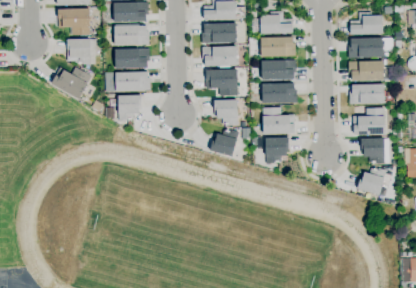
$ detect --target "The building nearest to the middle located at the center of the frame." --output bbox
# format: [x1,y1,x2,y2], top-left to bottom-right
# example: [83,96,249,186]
[210,130,238,154]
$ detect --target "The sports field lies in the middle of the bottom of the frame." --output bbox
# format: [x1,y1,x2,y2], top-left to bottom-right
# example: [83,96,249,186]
[38,162,372,288]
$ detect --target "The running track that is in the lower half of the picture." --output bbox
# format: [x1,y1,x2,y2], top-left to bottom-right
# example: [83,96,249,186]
[17,144,390,288]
